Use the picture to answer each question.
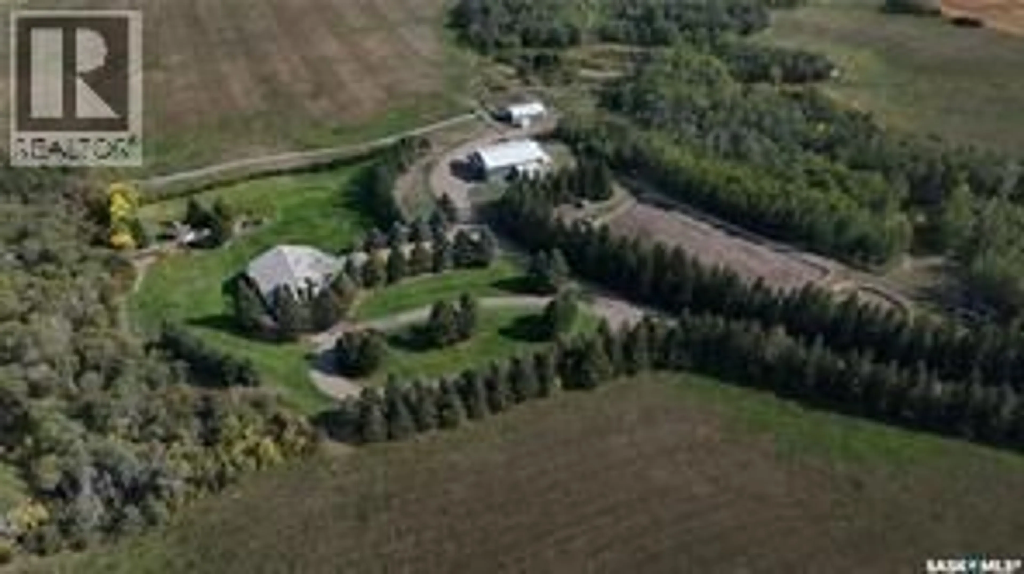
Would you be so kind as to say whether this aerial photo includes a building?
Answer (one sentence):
Yes, the picture does show a building.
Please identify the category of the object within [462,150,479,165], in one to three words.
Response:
vehicle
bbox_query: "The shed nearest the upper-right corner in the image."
[505,102,547,126]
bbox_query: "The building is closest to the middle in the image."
[477,141,552,184]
